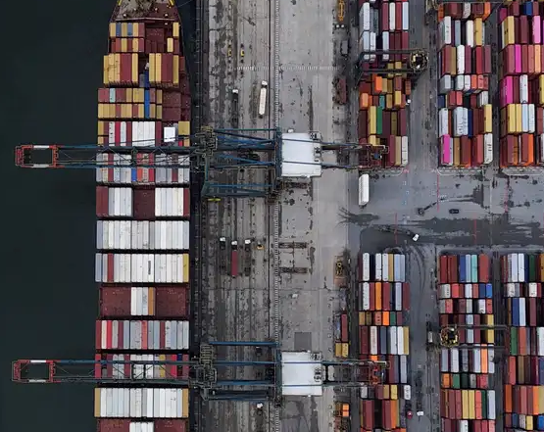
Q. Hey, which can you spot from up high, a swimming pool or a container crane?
container crane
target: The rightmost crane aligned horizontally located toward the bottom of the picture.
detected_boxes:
[423,319,510,353]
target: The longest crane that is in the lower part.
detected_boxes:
[11,327,396,404]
